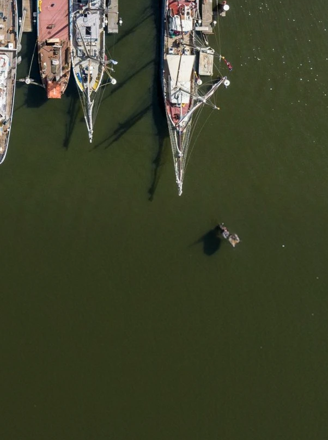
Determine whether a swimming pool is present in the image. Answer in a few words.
No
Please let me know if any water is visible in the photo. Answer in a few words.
Yes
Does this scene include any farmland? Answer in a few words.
No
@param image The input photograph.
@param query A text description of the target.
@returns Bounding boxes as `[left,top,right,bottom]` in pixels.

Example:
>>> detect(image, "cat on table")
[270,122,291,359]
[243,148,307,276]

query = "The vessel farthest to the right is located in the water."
[161,0,227,194]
